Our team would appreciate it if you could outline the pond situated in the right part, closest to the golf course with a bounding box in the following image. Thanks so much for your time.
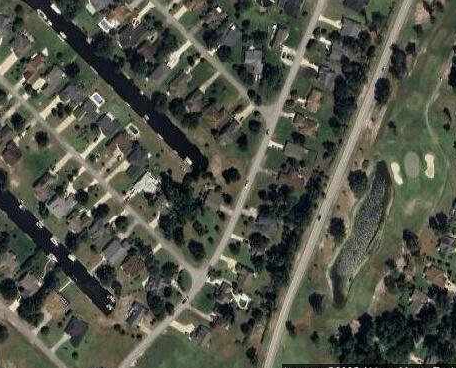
[332,159,391,307]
